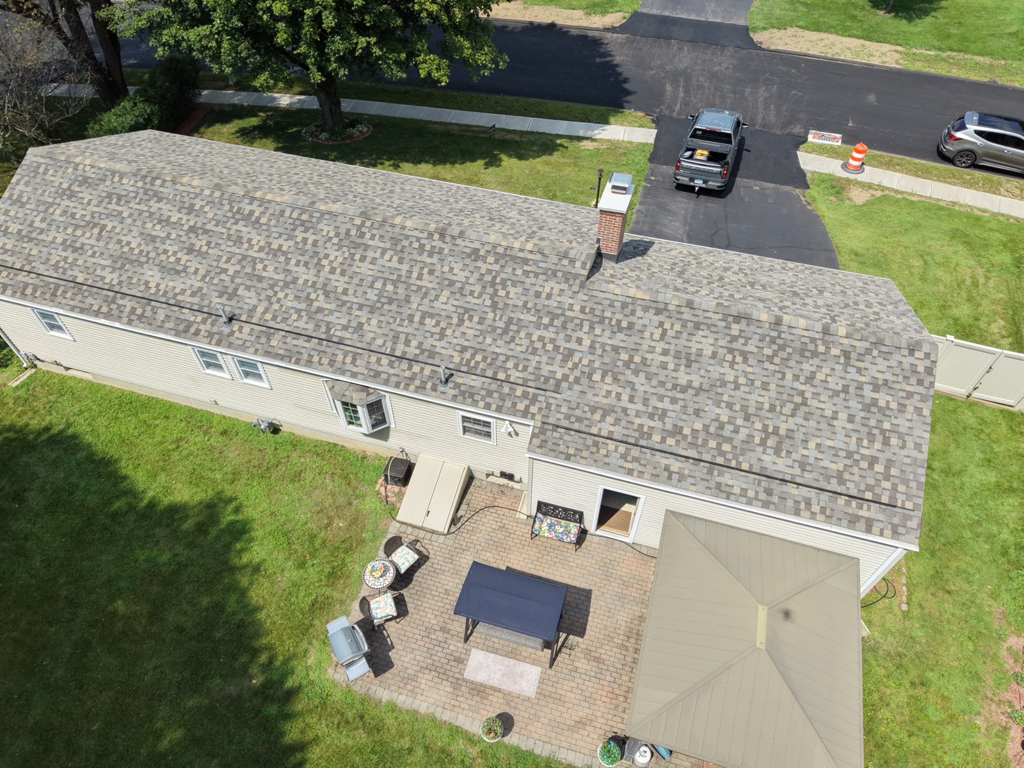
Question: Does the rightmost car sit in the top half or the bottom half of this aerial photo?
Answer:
top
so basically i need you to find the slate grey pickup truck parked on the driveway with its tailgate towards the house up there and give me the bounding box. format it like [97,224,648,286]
[675,101,750,194]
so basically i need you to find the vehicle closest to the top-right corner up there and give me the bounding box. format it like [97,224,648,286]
[939,114,1024,180]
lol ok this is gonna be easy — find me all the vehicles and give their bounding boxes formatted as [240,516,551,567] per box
[675,101,750,194]
[939,114,1024,180]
